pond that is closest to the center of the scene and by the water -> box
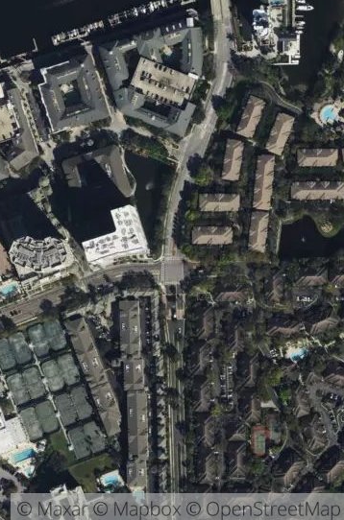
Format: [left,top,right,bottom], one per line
[61,151,168,251]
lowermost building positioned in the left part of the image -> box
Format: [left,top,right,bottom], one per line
[53,486,87,520]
